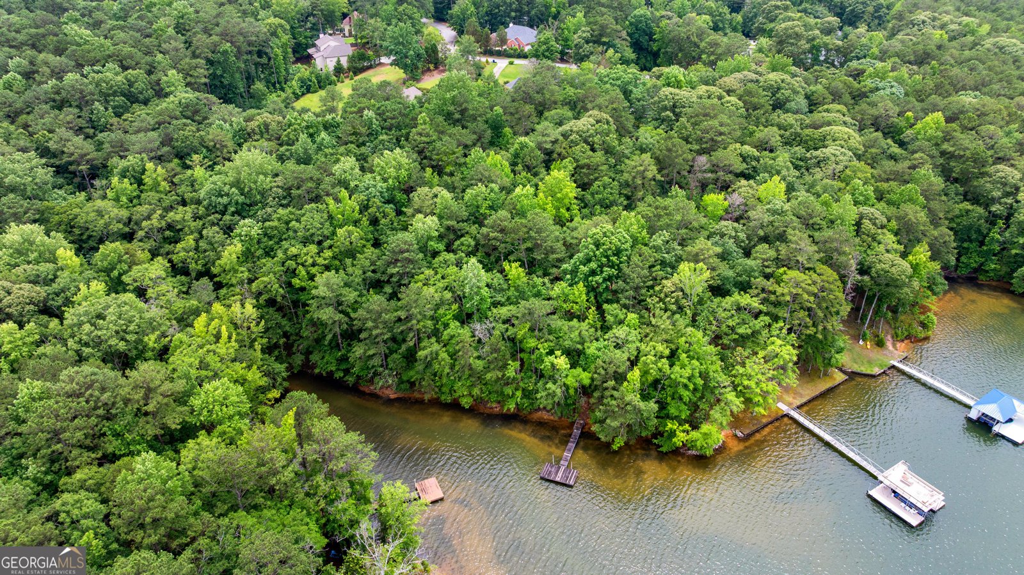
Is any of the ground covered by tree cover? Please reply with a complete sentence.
Yes, the picture does contain tree cover.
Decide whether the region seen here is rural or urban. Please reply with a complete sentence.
From above, the setting appears rural.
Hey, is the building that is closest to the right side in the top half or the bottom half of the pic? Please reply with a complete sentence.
The building that is closest to the right side sits in the bottom half of the picture.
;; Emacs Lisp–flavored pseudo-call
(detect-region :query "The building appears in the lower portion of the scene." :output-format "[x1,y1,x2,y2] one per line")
[966,387,1024,447]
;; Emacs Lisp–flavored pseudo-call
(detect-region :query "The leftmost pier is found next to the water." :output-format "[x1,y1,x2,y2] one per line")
[415,476,444,506]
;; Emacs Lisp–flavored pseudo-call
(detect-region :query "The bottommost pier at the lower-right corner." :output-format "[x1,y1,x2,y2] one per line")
[864,457,950,528]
